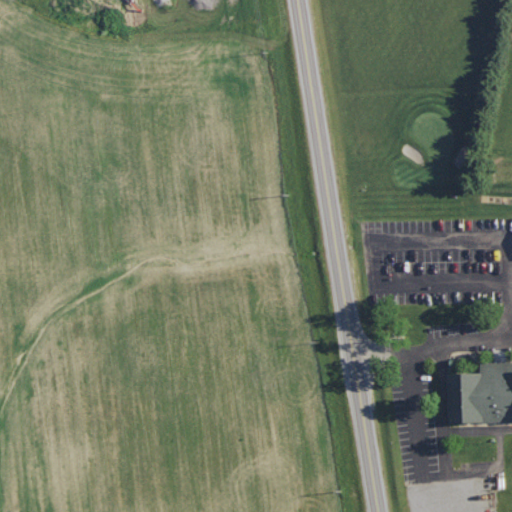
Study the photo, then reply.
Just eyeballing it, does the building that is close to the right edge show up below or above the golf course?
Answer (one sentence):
The building that is close to the right edge appears below the golf course in the picture.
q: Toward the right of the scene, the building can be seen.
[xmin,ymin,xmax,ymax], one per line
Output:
[462,363,512,425]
